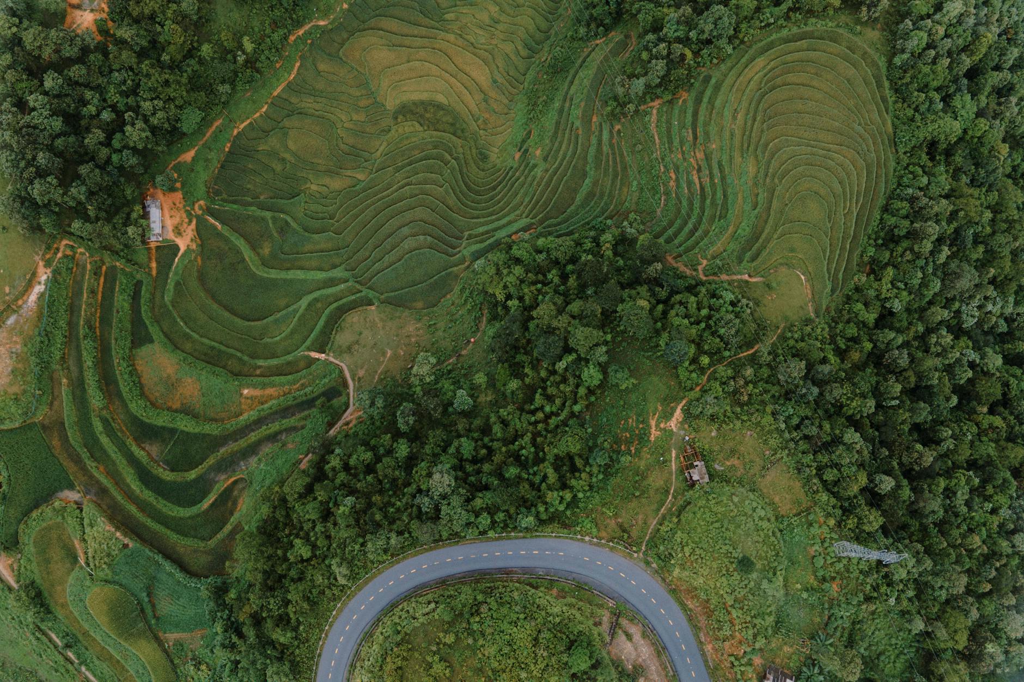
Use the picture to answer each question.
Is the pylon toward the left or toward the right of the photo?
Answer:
right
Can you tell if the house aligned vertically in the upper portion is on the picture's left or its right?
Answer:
left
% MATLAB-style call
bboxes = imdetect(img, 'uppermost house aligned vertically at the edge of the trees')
[145,200,167,243]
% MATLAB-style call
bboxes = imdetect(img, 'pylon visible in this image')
[831,541,906,563]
